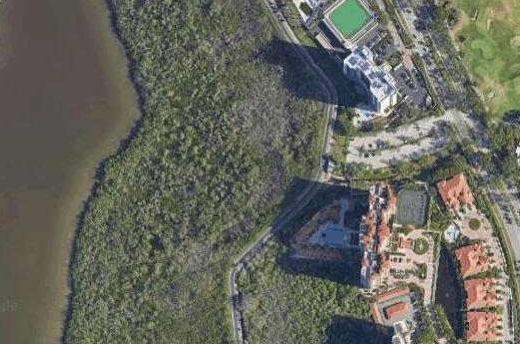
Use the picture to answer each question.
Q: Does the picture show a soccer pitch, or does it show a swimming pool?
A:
swimming pool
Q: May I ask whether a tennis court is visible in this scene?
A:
Yes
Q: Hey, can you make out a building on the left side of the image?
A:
No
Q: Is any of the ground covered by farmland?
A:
No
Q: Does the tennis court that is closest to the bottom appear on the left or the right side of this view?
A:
right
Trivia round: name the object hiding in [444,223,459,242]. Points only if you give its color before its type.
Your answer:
white swimming pool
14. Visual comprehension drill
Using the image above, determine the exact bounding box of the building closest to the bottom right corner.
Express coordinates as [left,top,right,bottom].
[466,311,501,341]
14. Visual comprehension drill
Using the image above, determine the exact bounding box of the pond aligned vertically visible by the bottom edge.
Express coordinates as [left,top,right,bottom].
[435,245,466,339]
